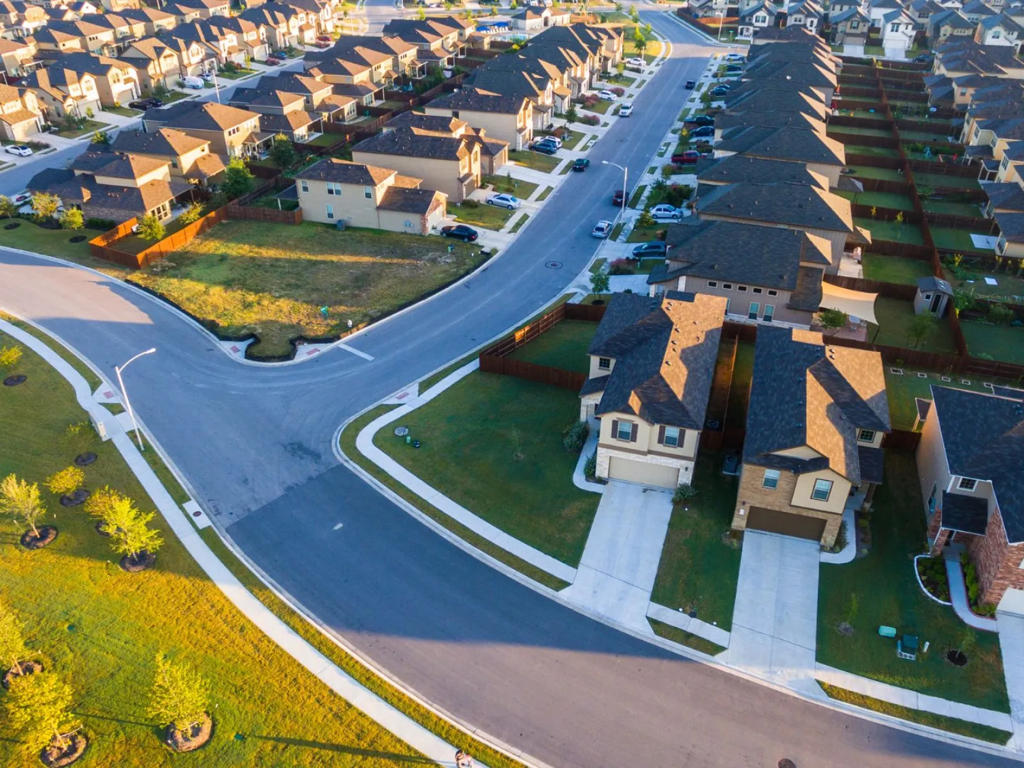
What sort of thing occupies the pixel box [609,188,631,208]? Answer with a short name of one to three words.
car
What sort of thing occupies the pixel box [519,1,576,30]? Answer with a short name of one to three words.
building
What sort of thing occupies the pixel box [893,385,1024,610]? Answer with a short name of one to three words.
house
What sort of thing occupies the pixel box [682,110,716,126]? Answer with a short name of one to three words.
vehicle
